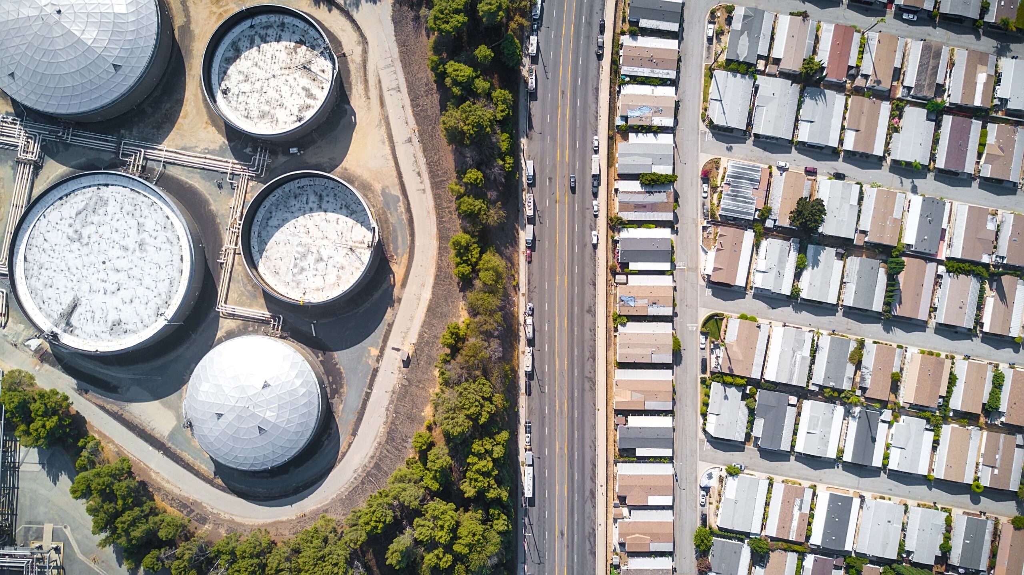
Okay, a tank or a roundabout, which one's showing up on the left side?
tank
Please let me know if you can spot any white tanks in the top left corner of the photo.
Yes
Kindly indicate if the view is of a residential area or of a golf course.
residential area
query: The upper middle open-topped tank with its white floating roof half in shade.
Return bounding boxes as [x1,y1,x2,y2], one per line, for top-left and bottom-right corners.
[201,4,347,141]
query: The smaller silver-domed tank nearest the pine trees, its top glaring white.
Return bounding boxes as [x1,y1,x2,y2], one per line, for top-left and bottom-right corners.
[183,334,327,470]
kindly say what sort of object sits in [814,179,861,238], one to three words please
house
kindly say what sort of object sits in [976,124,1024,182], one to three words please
house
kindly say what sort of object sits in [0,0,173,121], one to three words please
storage tank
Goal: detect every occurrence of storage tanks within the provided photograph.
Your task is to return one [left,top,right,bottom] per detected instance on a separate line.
[201,4,347,141]
[241,171,377,309]
[8,170,205,353]
[183,334,327,470]
[0,0,173,121]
